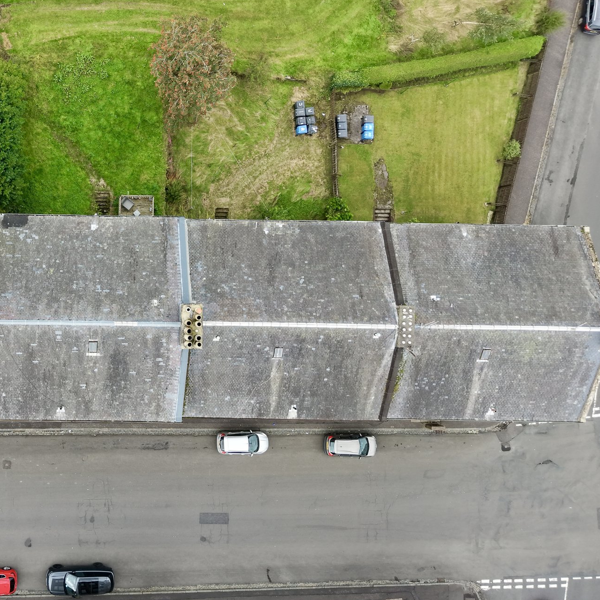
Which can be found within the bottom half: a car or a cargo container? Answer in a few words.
car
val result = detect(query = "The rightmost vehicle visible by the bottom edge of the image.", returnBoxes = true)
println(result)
[47,564,115,600]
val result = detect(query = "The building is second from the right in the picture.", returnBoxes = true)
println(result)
[182,216,420,422]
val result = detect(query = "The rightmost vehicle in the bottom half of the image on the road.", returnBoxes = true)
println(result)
[323,431,377,462]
